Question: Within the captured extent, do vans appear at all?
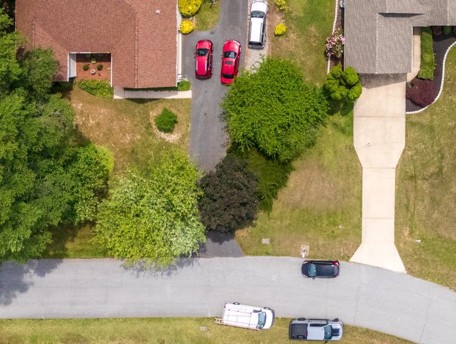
Yes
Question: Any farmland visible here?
No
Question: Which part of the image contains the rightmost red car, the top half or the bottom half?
top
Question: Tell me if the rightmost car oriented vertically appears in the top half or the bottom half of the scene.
top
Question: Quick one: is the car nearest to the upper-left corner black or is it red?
red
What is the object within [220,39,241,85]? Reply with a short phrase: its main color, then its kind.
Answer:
red car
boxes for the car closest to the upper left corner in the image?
[193,38,216,79]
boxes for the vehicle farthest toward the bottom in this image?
[287,318,342,344]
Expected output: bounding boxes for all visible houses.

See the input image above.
[343,0,456,74]
[15,0,182,88]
